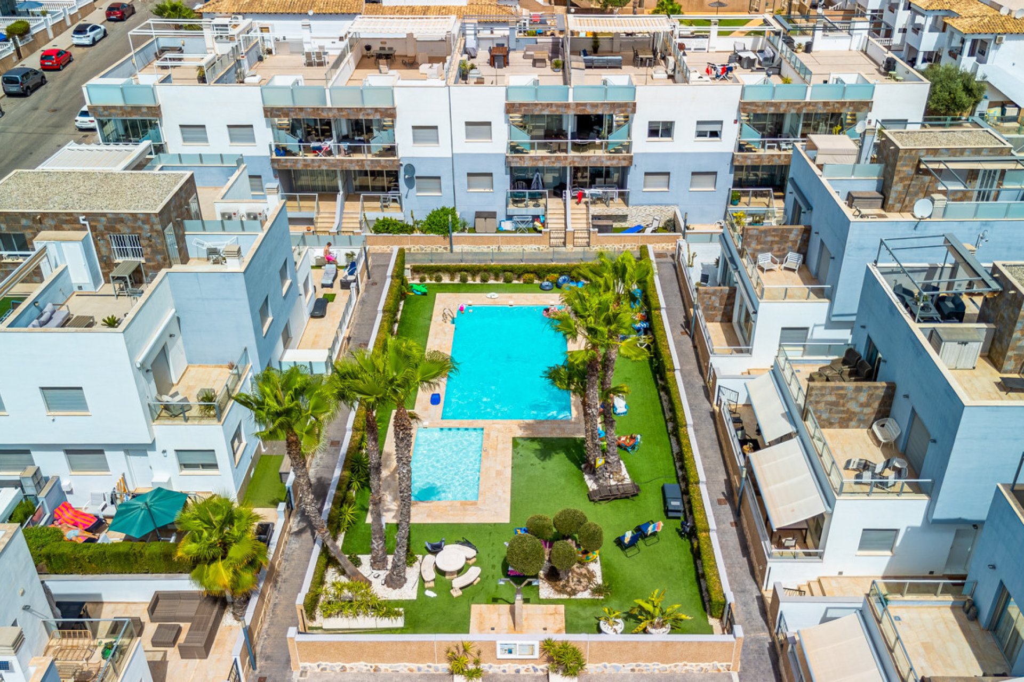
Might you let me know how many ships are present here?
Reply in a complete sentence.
There are no ships in the image.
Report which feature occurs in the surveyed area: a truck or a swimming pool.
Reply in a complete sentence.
Looking from above, you can make out a swimming pool.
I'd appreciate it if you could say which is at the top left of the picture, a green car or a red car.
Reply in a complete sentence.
What appears at the top left of the picture is a red car.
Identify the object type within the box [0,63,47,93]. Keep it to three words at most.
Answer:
car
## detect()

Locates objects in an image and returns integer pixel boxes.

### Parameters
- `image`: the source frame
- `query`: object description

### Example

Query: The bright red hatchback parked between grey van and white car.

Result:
[38,45,76,68]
